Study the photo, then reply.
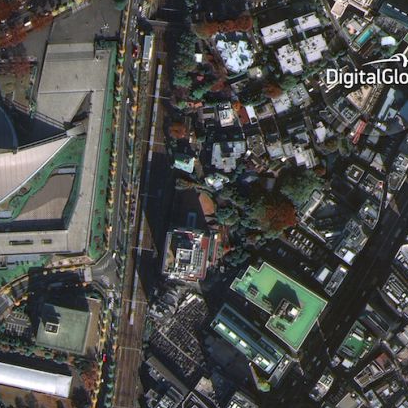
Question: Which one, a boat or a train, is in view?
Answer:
train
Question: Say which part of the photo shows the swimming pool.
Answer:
top right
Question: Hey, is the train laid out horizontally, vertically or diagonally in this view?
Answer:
vertically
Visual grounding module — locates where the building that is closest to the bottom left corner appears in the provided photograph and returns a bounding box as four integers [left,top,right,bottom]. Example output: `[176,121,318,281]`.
[0,364,72,400]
